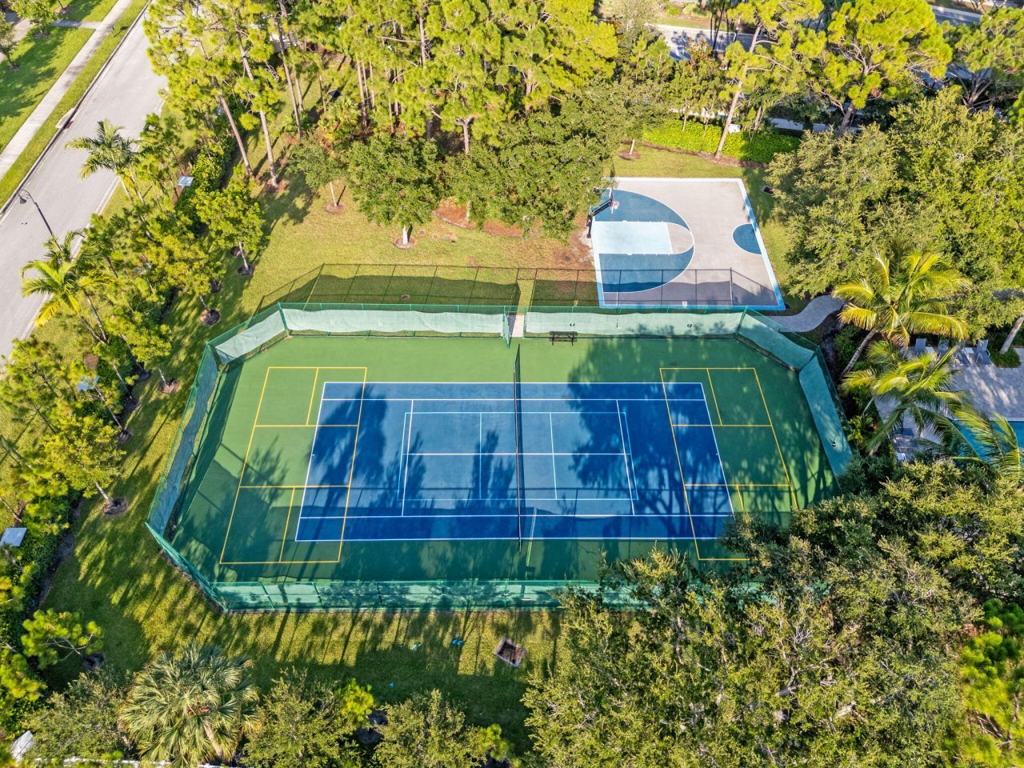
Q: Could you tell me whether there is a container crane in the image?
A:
No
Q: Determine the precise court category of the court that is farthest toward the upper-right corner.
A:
basketball court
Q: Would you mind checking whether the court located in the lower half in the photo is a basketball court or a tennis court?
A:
tennis court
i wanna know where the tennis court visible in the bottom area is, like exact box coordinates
[171,339,852,611]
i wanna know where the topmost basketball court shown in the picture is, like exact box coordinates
[587,176,784,309]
